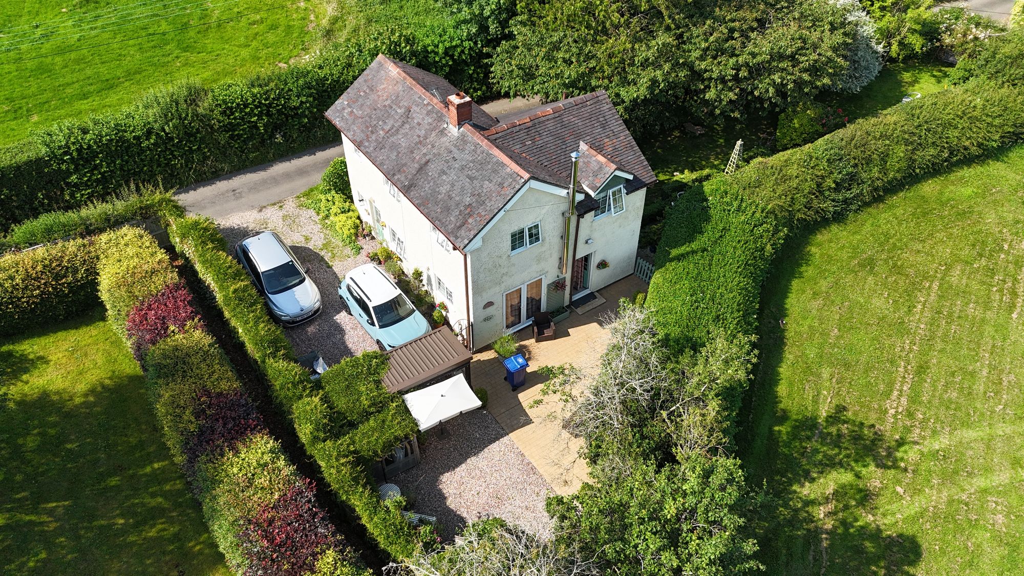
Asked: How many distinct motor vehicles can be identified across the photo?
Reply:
2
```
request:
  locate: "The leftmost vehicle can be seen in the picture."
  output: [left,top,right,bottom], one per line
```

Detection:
[241,235,324,324]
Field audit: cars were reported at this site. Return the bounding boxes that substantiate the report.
[241,235,324,324]
[341,265,428,354]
